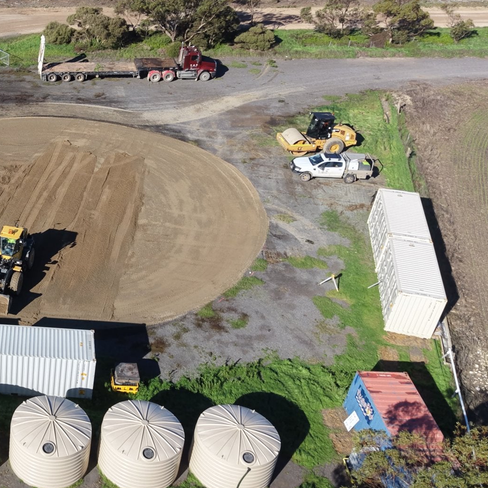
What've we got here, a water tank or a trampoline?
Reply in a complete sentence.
The image shows a water tank.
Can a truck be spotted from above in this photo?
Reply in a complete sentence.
Yes, a truck is visible in the scene.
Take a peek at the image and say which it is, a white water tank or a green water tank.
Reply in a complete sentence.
This aerial view contains a white water tank.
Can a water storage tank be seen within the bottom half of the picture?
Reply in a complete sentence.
Yes, I can see a water storage tank within the bottom half of the picture.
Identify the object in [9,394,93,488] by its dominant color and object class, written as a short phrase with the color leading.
white water tank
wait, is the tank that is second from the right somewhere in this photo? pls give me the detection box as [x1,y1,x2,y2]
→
[98,400,187,488]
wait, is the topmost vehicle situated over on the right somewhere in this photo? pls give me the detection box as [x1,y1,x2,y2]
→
[289,150,375,183]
